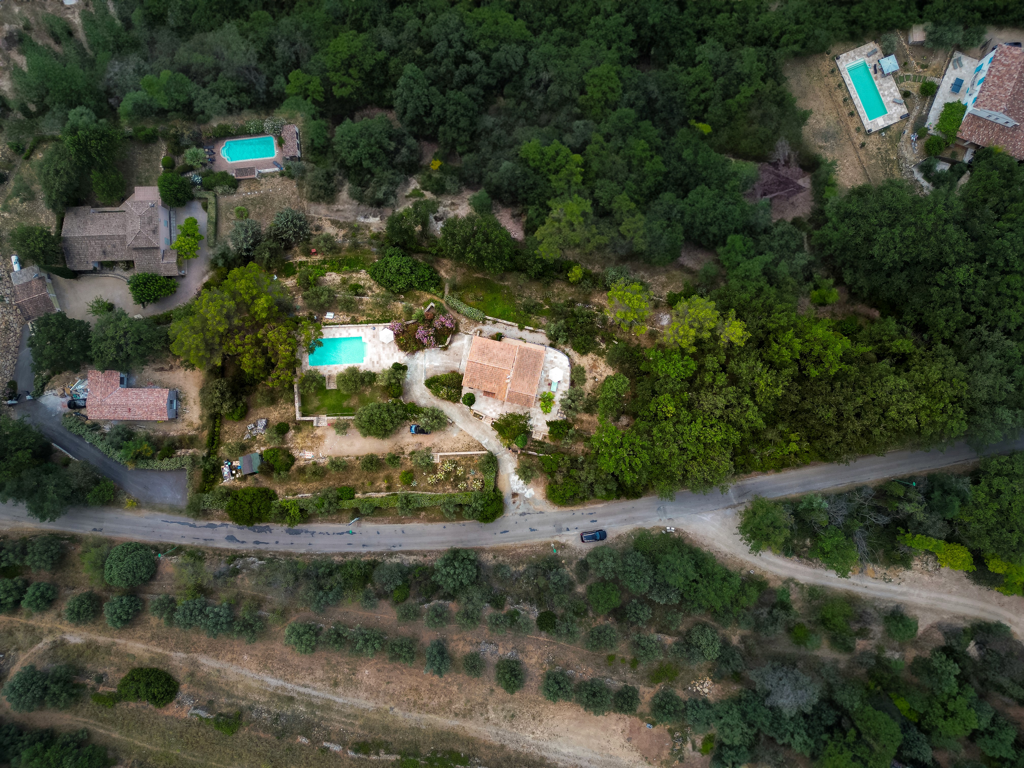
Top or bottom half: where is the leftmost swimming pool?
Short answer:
top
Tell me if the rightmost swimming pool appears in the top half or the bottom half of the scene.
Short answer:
top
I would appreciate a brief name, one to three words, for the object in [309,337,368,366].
swimming pool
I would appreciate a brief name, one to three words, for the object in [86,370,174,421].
house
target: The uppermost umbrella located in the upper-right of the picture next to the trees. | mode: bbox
[878,54,899,75]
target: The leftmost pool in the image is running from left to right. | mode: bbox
[218,134,277,164]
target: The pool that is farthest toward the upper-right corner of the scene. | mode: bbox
[845,57,889,122]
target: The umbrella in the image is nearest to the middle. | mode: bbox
[549,367,563,382]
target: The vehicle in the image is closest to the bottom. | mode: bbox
[580,529,607,542]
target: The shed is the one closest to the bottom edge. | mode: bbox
[239,453,264,475]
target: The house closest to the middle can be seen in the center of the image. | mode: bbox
[461,335,546,408]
